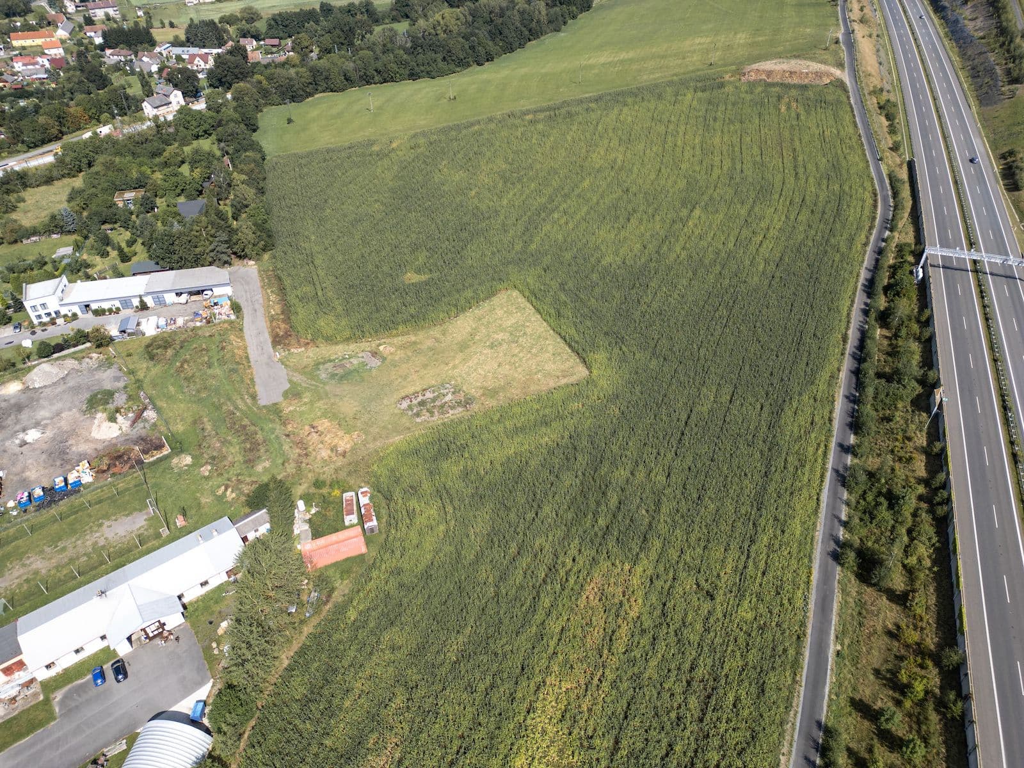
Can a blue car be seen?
Yes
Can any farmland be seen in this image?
Yes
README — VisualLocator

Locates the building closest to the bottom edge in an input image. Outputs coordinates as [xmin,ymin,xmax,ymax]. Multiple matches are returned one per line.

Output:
[112,713,207,768]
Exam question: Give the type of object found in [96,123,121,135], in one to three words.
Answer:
vehicle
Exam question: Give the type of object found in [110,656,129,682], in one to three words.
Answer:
car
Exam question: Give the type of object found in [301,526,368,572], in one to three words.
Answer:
shed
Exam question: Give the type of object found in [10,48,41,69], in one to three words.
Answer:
house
